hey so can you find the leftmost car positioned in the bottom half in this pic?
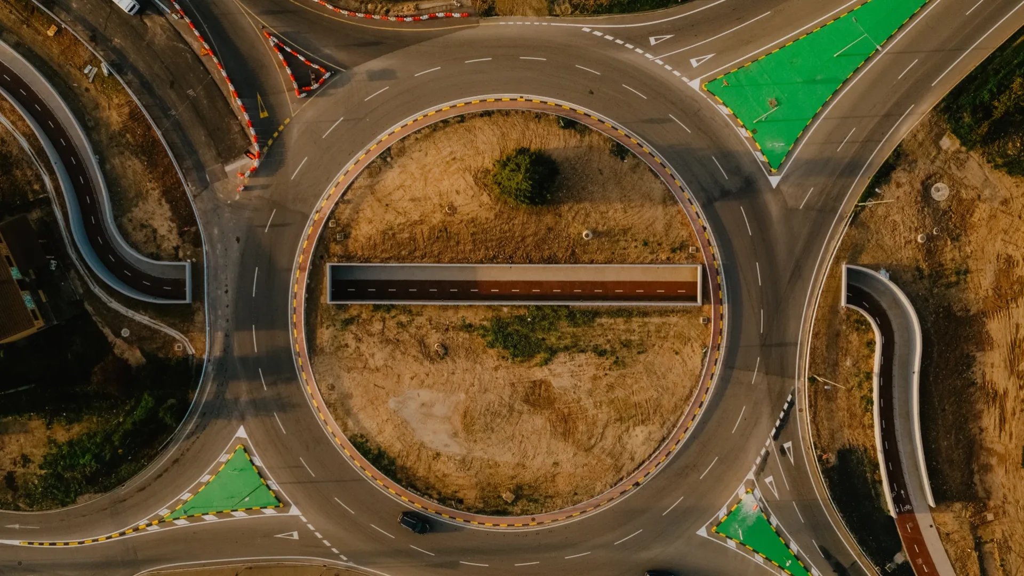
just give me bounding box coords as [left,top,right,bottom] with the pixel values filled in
[397,510,430,534]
